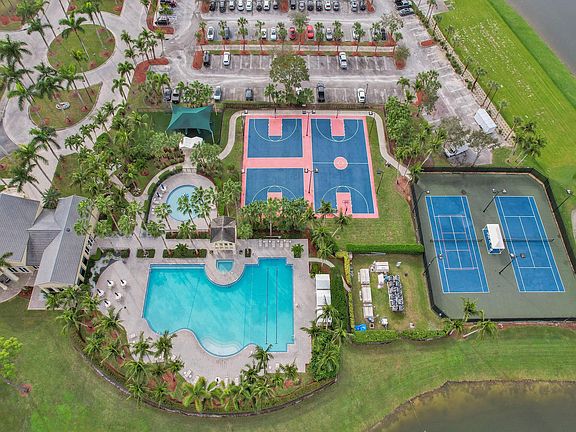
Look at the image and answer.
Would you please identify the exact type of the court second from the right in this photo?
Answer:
tennis court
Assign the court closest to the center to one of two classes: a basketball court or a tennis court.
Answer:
basketball court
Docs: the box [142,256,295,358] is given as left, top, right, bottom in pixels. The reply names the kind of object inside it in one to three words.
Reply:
swimming pool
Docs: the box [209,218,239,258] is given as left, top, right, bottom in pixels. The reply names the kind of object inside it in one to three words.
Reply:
gazebo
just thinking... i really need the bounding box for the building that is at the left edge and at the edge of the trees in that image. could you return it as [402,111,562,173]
[0,194,99,294]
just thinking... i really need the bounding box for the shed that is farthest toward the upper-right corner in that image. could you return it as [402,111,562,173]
[470,109,498,137]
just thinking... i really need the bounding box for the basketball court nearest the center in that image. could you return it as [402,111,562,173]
[240,163,309,218]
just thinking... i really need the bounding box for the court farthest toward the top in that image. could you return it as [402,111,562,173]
[242,115,308,163]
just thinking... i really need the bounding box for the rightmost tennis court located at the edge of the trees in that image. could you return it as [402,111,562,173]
[474,173,576,321]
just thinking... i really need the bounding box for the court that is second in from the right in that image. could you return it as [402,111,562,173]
[414,173,511,320]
